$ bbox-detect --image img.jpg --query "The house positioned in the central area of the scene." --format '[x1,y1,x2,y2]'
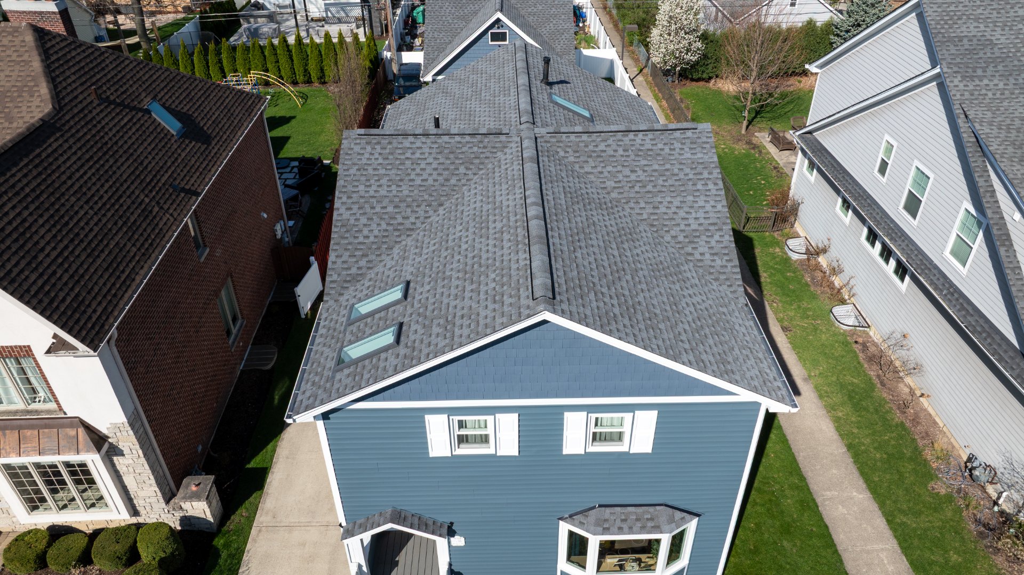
[285,37,803,575]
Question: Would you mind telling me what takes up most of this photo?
buildings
